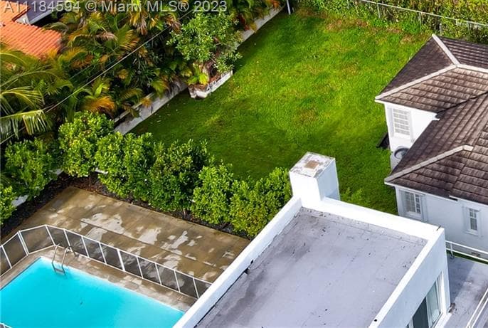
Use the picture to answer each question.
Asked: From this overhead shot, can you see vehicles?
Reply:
No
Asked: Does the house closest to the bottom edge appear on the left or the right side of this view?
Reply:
right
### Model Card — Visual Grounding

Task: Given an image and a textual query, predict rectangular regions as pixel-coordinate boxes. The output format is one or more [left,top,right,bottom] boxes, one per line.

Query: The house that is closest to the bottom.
[173,147,488,328]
